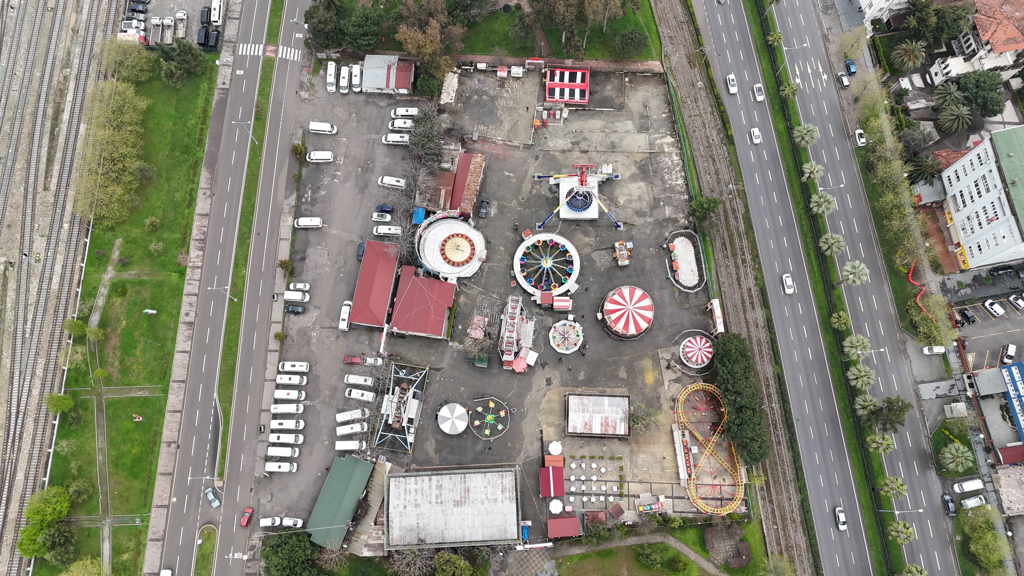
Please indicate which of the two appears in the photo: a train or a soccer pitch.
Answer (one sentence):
This aerial view contains a train.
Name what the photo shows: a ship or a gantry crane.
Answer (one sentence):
Visible in the photo is a ship.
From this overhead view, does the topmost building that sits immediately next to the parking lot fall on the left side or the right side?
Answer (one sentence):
It is on the right.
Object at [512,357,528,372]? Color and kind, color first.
pink umbrella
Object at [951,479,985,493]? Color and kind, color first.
white vehicle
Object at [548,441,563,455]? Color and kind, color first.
white umbrella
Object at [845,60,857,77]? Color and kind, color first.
blue vehicle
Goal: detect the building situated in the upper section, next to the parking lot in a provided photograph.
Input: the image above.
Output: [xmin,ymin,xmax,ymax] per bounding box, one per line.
[943,134,1024,269]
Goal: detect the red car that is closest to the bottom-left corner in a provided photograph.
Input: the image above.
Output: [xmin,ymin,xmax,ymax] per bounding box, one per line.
[239,506,255,529]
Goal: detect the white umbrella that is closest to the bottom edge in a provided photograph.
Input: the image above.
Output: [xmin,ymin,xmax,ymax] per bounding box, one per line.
[549,499,563,514]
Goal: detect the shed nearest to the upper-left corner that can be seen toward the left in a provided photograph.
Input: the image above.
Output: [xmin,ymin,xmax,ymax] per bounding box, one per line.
[362,55,415,97]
